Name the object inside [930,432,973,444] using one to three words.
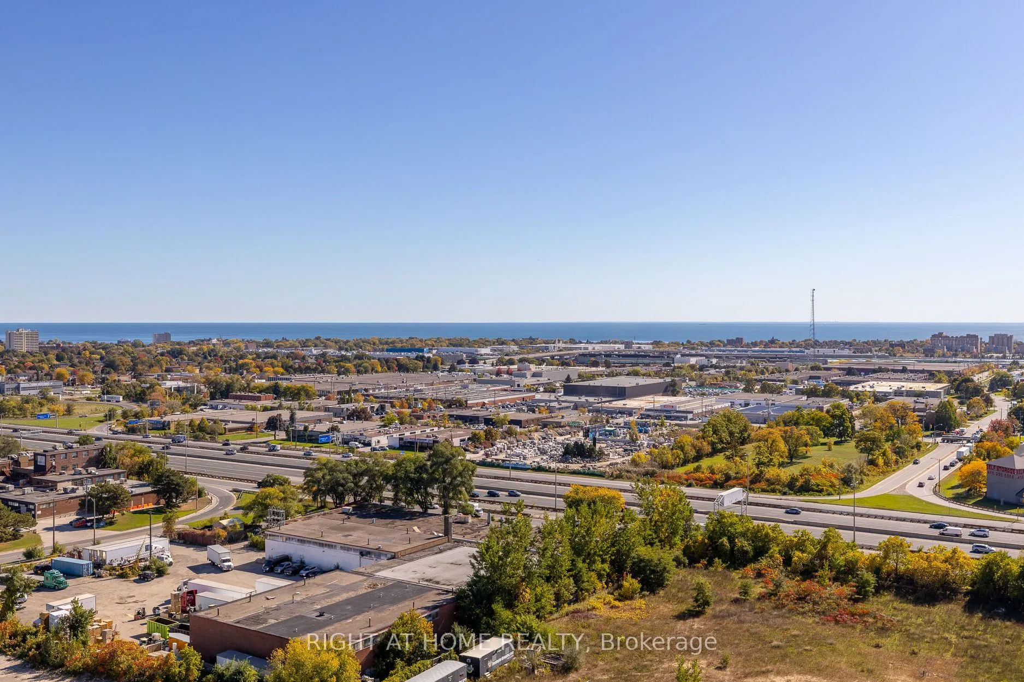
vehicle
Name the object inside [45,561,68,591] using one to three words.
truck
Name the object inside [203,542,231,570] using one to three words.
truck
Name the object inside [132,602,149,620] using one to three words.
work vehicle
